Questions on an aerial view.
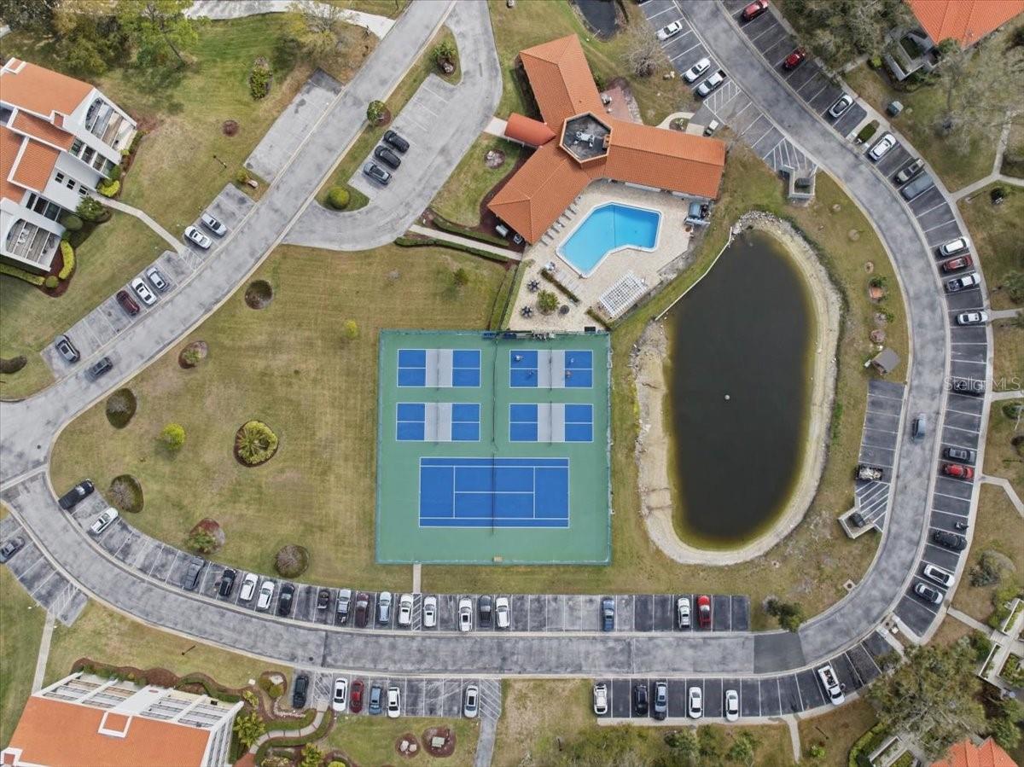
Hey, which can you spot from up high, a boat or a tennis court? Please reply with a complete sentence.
Visible in the photo is a tennis court.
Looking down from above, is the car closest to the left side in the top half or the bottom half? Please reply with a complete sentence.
The car closest to the left side is in the bottom half of the image.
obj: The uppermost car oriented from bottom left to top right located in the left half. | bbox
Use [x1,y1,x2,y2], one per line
[81,355,112,379]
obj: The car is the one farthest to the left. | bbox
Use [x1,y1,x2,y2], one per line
[0,535,23,561]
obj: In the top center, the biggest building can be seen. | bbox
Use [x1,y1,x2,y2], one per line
[487,34,725,244]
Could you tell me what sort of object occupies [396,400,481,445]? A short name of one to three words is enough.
sports court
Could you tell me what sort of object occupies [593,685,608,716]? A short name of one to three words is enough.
car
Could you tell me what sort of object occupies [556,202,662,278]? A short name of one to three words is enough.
swimming pool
